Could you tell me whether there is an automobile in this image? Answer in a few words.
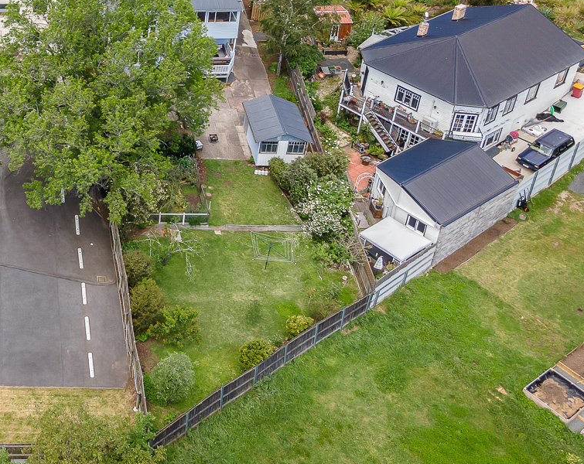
Yes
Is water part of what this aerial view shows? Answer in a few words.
No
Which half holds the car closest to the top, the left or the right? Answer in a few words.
right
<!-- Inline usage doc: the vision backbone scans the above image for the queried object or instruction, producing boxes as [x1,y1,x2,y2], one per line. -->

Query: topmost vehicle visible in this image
[519,119,579,168]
